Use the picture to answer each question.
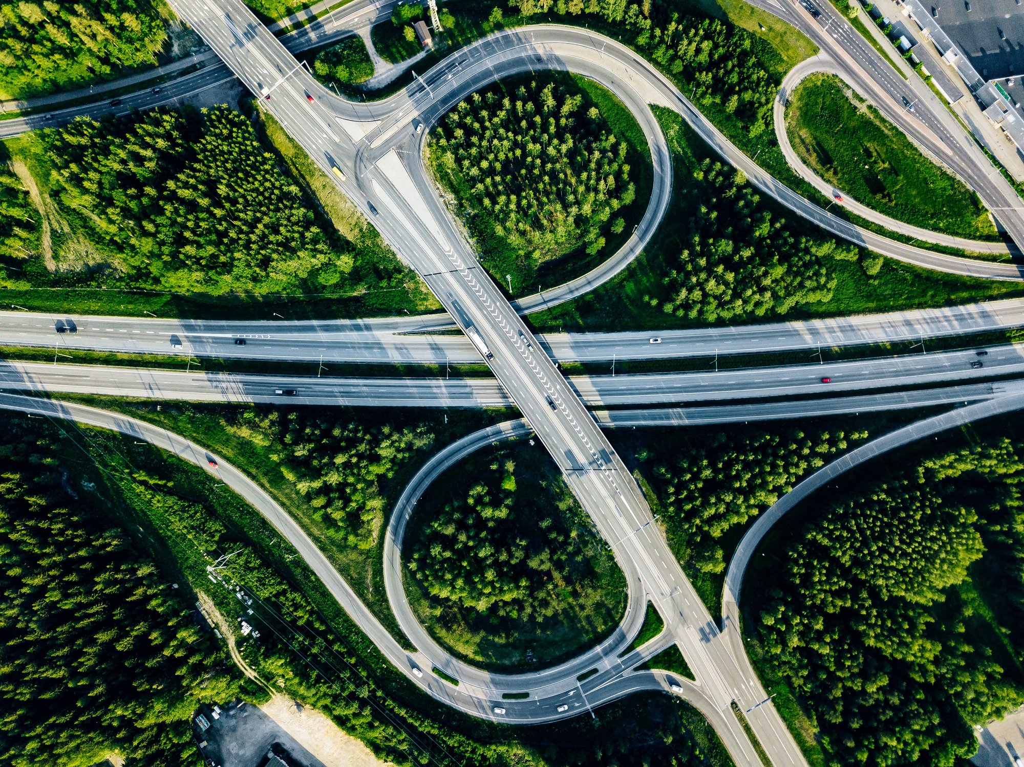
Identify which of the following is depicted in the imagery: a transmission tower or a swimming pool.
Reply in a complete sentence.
I can see a transmission tower in this picture.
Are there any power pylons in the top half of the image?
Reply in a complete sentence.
No, no power pylon appears in the top half of the image.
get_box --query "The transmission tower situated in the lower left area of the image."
[207,550,243,576]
